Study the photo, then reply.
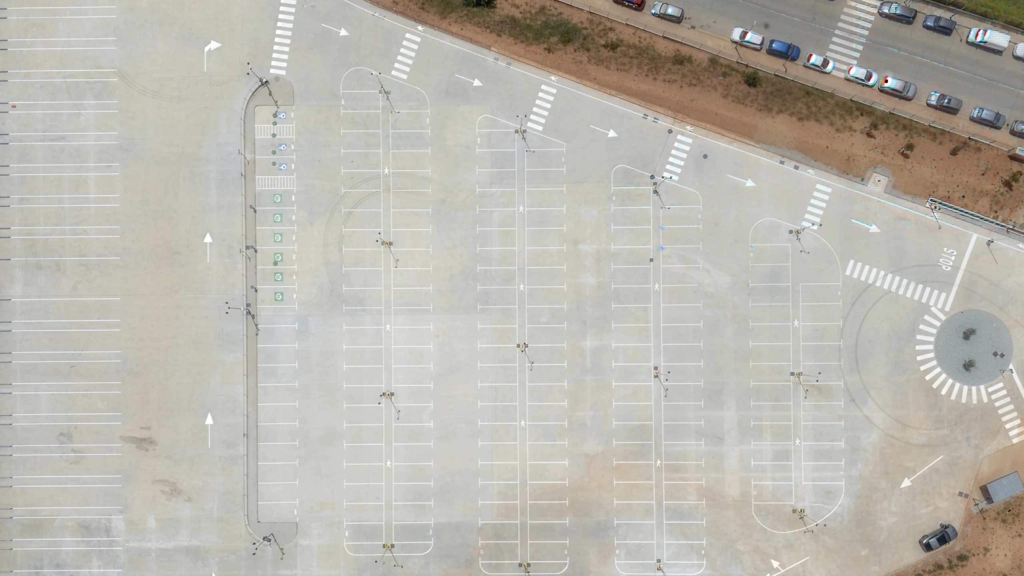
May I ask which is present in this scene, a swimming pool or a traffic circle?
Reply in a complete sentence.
Visible in the photo is a traffic circle.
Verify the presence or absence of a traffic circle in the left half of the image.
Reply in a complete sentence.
No, no traffic circle can be made out in the left half of the image.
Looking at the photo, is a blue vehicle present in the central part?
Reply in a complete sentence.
No, looking in the central part, there is no blue vehicle.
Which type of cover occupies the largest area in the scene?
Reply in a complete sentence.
The scene is dominated by paved ground.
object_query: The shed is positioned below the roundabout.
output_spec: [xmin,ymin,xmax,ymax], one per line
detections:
[979,471,1024,505]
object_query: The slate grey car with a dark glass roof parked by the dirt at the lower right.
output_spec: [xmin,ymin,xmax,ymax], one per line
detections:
[917,524,957,551]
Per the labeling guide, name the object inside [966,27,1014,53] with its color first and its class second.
white vehicle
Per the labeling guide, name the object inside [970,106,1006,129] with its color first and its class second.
gray car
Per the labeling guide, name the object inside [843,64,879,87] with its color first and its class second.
white car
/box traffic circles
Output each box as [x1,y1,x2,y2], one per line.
[933,307,1014,387]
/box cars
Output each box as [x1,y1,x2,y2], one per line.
[651,1,686,23]
[614,0,646,10]
[1009,119,1024,137]
[765,39,801,61]
[970,106,1006,129]
[922,13,959,36]
[926,92,964,115]
[917,524,957,551]
[802,52,836,74]
[843,64,879,87]
[1014,44,1024,60]
[878,76,918,100]
[878,0,919,24]
[730,27,765,50]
